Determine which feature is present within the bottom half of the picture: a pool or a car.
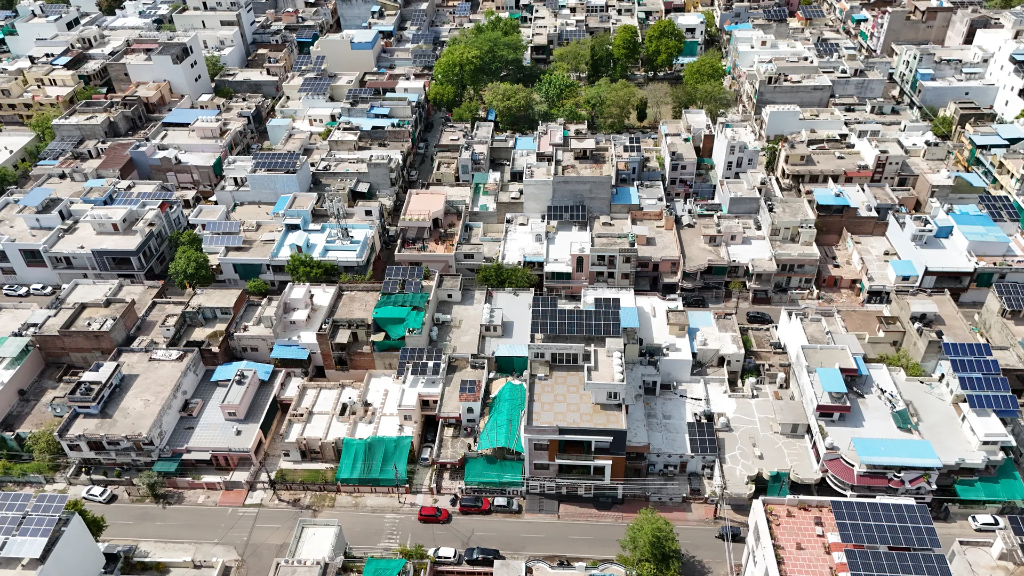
car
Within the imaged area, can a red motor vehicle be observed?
Yes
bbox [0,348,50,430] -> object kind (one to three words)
house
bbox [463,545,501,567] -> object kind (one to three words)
car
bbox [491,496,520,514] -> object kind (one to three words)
car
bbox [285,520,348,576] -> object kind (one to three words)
house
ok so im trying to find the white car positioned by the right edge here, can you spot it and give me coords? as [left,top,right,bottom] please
[966,513,1009,535]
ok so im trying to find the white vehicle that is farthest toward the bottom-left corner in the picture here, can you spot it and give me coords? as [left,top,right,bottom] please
[79,485,115,507]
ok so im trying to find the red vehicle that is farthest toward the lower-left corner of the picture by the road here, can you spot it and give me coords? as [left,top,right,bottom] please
[416,506,450,525]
